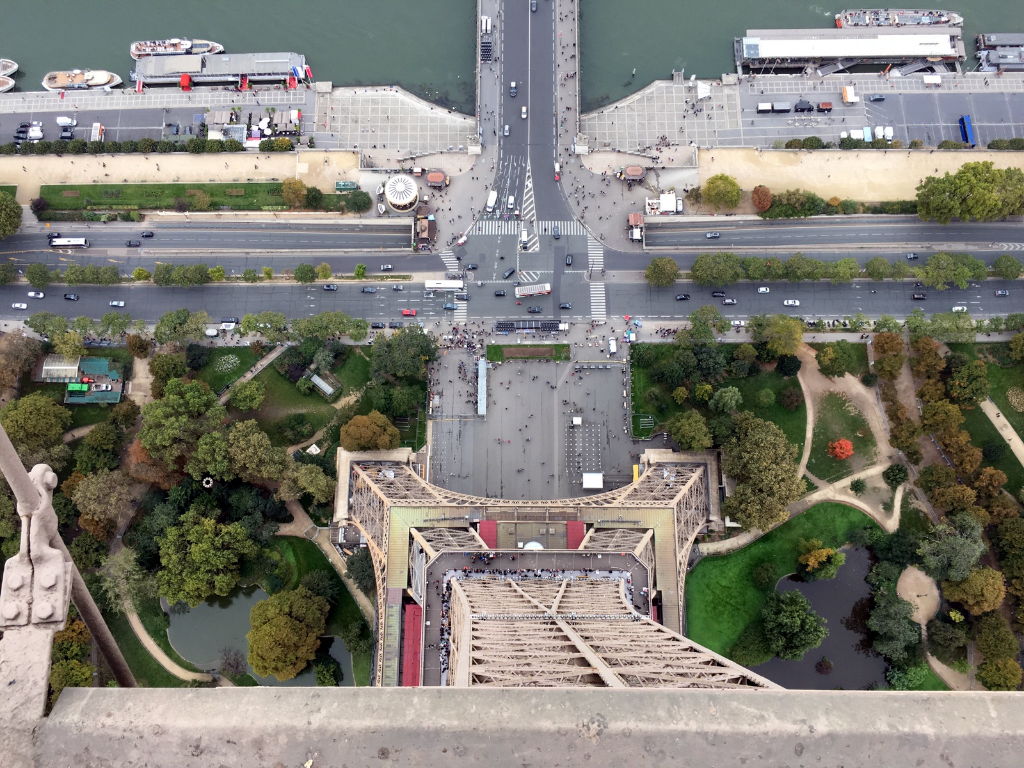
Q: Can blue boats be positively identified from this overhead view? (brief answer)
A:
No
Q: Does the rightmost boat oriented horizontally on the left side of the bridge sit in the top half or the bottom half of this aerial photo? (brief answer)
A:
top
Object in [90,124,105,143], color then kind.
white vehicle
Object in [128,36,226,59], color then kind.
white boat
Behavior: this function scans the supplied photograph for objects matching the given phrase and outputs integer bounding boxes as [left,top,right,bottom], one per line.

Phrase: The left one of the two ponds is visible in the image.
[159,579,363,687]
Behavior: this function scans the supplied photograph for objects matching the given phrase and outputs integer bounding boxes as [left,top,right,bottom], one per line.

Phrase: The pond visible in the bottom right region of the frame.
[754,546,894,689]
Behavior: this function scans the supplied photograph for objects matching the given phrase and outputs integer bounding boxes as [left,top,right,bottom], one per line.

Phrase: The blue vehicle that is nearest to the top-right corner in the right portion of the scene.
[958,112,977,145]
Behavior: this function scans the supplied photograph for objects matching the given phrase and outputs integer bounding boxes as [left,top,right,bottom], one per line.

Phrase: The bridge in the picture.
[476,0,580,154]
